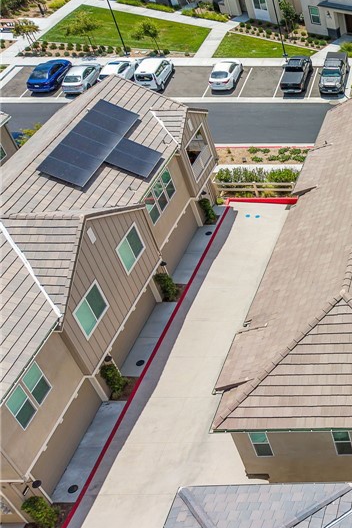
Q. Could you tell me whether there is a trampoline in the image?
No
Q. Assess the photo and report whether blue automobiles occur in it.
Yes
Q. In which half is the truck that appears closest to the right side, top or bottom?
top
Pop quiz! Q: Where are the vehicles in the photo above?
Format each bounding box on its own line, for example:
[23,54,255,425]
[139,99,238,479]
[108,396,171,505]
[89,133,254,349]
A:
[134,54,175,86]
[316,51,349,91]
[26,59,70,91]
[59,60,104,92]
[277,53,312,91]
[94,59,139,84]
[209,58,245,89]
